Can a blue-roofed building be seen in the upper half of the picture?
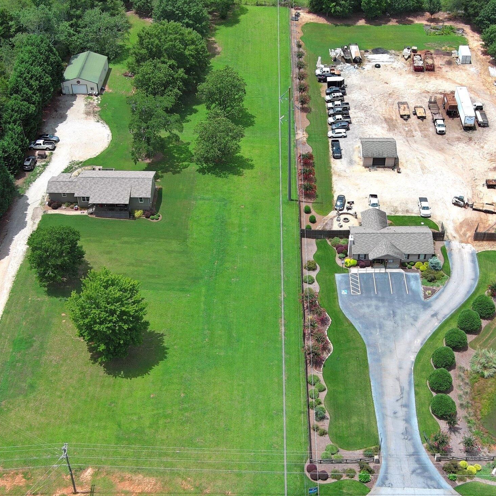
No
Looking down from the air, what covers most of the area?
grass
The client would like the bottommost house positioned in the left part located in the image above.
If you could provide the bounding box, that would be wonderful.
[46,171,156,216]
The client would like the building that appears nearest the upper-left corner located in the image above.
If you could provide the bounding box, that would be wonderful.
[60,51,108,94]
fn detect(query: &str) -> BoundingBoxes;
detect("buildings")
[46,171,156,216]
[60,51,108,94]
[359,138,398,166]
[347,205,434,268]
